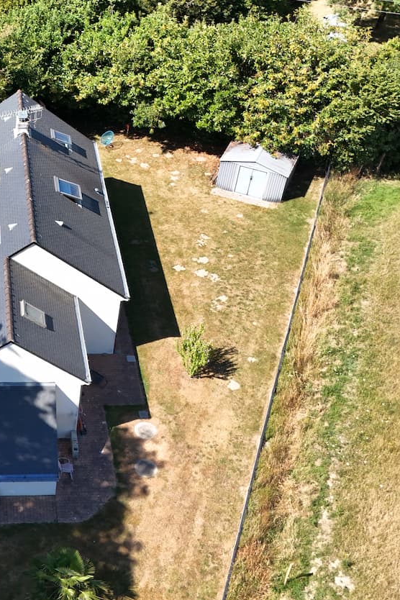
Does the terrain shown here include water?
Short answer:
No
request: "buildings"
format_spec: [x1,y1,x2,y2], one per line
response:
[211,135,297,208]
[0,91,134,494]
